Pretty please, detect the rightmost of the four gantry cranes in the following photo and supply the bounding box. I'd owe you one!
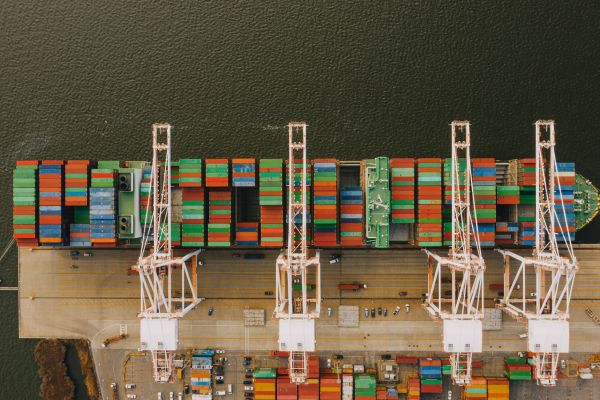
[489,122,582,382]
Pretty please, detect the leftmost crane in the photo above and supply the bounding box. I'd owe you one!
[135,122,204,382]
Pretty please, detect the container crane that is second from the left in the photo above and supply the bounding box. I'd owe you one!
[272,122,324,382]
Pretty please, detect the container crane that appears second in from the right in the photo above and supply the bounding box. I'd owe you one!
[415,122,490,382]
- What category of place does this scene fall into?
port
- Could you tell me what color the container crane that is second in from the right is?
white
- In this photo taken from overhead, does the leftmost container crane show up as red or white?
white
